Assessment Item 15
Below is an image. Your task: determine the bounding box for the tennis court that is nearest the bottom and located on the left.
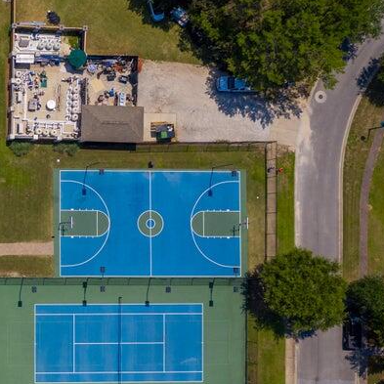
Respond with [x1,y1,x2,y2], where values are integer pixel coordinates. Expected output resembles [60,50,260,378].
[8,299,230,384]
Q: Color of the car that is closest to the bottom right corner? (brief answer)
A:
black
